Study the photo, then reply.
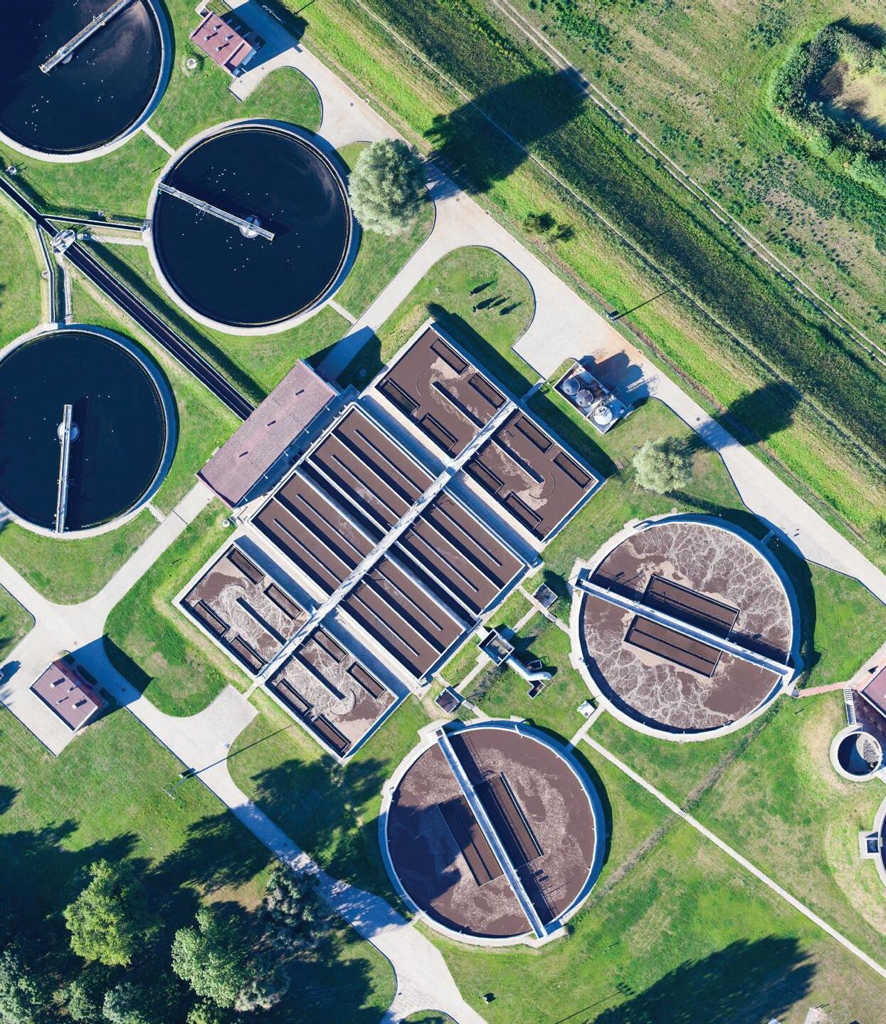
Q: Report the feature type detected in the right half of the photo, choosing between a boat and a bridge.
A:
bridge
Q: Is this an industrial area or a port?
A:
industrial area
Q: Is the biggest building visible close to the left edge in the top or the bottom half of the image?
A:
bottom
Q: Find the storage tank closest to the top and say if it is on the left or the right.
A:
left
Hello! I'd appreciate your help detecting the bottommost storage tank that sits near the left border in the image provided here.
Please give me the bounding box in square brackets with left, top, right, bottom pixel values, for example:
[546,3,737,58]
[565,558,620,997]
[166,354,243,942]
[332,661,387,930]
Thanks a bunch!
[0,323,177,539]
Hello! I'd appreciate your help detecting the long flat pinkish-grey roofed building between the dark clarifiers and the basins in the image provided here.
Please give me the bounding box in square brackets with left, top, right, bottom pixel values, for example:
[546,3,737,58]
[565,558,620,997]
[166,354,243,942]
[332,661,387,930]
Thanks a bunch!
[197,358,341,511]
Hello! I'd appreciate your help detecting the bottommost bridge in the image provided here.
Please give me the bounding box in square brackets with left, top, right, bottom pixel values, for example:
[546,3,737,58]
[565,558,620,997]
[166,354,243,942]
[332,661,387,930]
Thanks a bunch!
[433,725,550,944]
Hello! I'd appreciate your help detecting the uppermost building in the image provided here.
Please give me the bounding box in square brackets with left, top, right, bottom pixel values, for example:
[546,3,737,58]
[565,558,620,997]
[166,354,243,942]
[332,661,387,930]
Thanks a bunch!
[190,11,260,77]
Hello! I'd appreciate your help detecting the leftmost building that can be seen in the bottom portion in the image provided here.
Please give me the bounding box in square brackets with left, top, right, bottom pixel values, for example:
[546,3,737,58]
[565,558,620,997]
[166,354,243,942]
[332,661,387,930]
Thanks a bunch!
[29,659,106,732]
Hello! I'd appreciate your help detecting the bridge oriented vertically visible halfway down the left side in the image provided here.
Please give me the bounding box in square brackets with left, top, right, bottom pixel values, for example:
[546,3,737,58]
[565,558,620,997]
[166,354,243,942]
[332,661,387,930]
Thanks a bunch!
[53,403,74,534]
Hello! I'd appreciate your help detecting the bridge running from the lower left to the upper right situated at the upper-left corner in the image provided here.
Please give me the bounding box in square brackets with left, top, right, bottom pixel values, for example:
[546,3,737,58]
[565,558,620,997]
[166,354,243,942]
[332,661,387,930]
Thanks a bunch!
[38,0,133,73]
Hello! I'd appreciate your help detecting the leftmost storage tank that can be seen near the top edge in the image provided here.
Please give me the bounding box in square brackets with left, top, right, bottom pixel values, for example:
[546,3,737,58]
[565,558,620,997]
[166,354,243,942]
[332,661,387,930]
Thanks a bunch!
[0,0,172,163]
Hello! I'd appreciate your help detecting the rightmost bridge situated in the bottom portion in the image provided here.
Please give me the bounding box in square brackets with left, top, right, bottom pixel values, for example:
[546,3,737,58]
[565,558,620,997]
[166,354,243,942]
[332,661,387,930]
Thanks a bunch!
[575,570,798,681]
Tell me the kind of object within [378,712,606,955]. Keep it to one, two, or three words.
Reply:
storage tank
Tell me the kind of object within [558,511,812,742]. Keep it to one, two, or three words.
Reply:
storage tank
